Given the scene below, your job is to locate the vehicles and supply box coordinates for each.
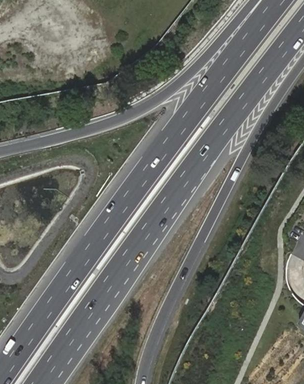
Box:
[141,376,146,384]
[292,226,304,235]
[4,338,16,354]
[136,252,144,263]
[106,202,116,212]
[70,279,80,290]
[200,76,208,86]
[158,218,168,228]
[180,268,188,280]
[4,377,12,384]
[200,145,210,156]
[150,158,160,168]
[87,300,96,310]
[230,167,242,183]
[14,345,24,356]
[292,38,304,52]
[290,232,300,240]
